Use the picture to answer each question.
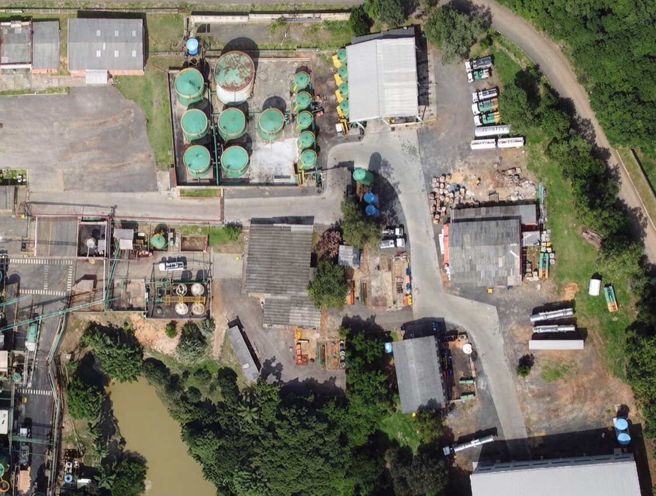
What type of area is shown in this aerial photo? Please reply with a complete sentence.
The area seen from above is an industrial area.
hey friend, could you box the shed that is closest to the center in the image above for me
[337,246,359,266]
